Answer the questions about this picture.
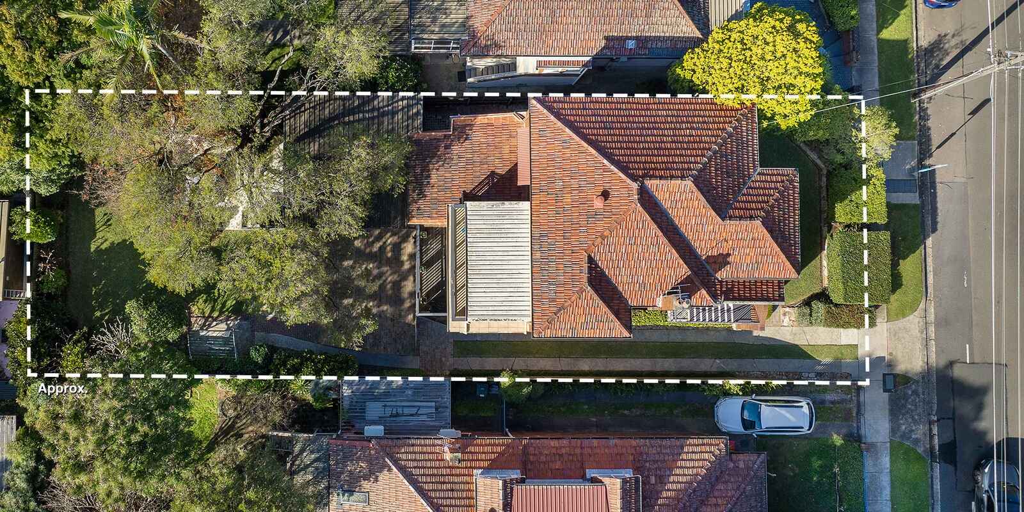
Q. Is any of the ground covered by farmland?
No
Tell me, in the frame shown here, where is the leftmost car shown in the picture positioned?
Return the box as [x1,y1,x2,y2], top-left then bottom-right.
[713,392,814,441]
